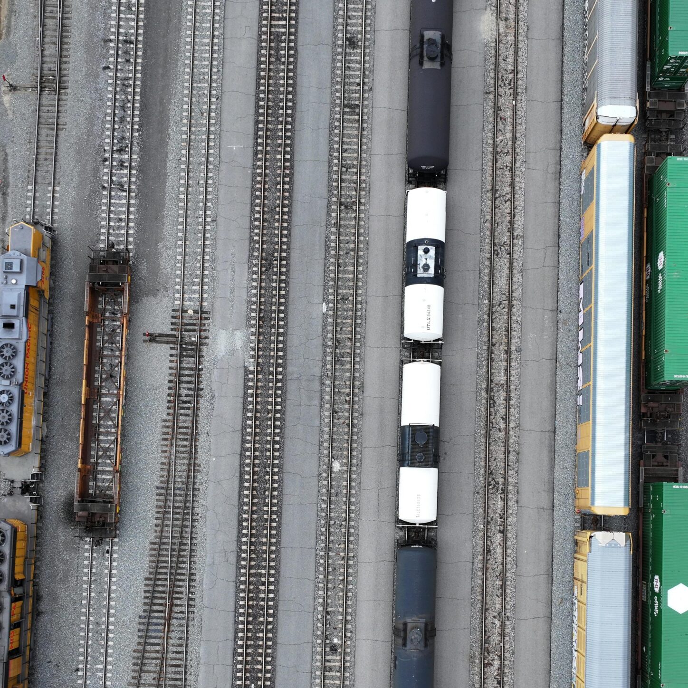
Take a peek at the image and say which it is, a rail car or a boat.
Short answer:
rail car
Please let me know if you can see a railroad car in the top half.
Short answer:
Yes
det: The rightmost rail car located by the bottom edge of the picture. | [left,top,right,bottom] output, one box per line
[392,530,437,688]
